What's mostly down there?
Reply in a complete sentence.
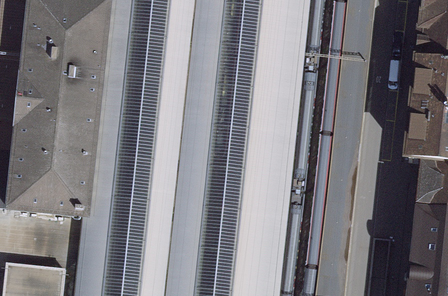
The scene is dominated by buildings.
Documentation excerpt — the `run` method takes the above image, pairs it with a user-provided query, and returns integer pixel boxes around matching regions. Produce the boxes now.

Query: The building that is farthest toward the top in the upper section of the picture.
[416,0,448,54]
